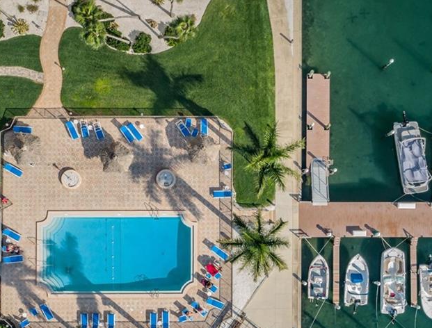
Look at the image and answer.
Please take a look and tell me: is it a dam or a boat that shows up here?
boat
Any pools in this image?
Yes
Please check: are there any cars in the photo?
No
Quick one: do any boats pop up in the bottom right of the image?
Yes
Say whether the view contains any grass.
Yes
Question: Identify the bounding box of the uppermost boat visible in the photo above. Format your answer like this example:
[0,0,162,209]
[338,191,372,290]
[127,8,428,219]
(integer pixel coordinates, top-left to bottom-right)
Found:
[394,113,432,193]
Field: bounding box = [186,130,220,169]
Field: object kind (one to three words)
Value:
umbrella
